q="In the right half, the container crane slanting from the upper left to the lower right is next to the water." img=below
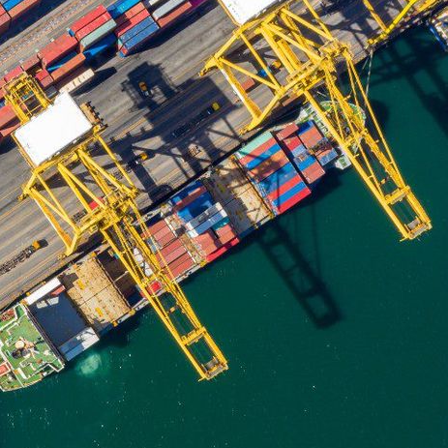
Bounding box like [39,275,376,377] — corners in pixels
[188,0,433,245]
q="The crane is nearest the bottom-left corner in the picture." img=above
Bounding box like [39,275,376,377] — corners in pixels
[0,65,231,386]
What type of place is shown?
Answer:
port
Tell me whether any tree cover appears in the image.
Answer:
No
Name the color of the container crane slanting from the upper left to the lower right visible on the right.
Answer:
yellow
